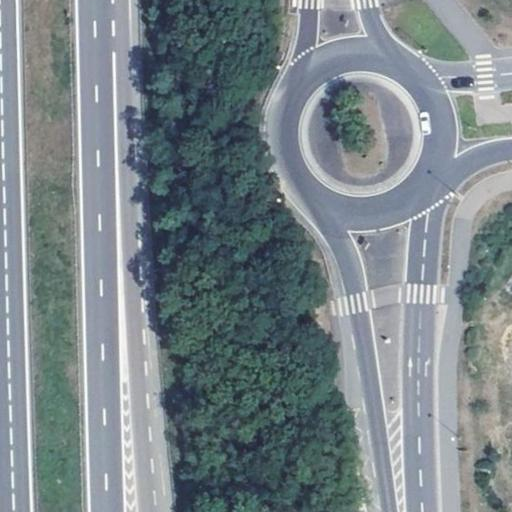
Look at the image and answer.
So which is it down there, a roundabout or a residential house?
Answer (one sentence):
I can see a roundabout in this picture.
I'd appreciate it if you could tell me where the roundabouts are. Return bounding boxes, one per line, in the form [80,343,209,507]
[264,36,458,231]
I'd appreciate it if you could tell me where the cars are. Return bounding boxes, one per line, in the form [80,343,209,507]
[420,112,430,135]
[451,76,474,88]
